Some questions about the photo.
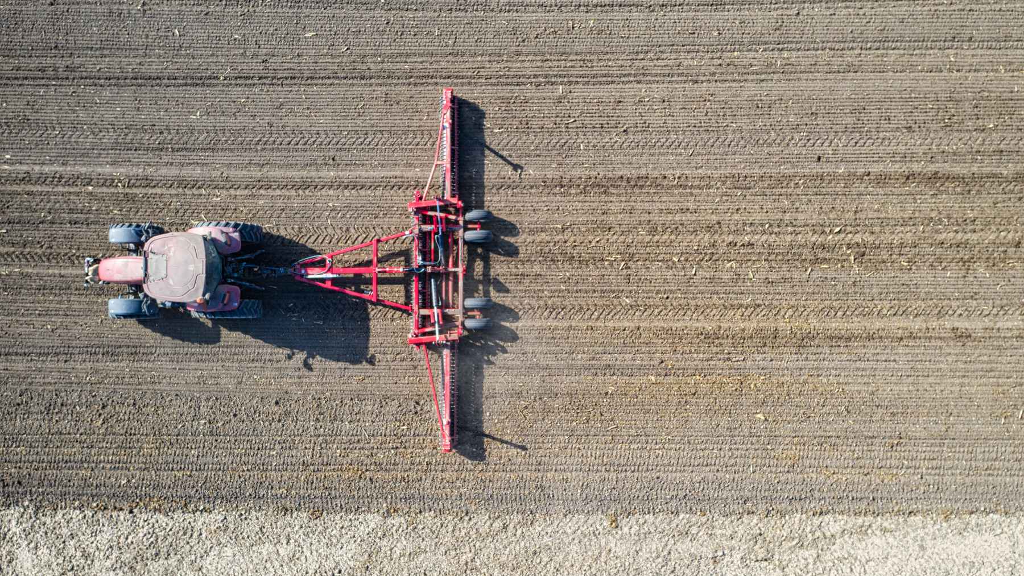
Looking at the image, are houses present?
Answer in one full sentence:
No, I can see no house in this picture.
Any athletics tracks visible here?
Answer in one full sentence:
No, no athletics track can be seen from above.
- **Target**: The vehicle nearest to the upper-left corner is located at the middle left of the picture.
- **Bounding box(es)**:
[84,218,284,320]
